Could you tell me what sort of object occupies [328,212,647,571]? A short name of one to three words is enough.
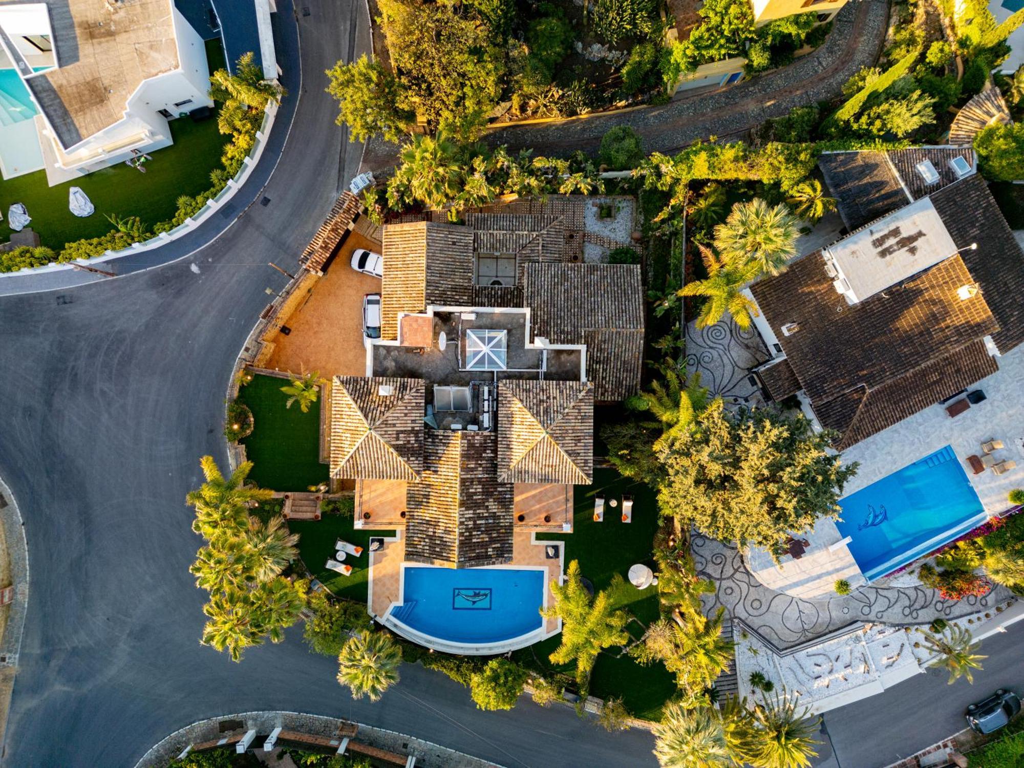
house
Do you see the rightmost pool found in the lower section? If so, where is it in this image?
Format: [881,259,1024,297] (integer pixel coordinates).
[832,445,989,593]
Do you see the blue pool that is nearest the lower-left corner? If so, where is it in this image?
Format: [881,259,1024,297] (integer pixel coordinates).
[378,562,560,663]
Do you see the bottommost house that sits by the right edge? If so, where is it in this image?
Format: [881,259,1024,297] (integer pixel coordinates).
[751,145,1024,450]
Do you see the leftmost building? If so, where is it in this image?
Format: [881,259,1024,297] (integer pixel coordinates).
[0,0,217,181]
